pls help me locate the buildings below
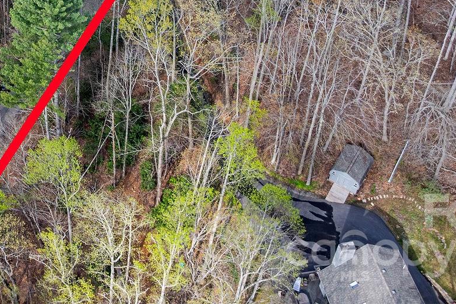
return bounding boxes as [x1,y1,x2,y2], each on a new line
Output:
[330,136,376,191]
[317,238,436,304]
